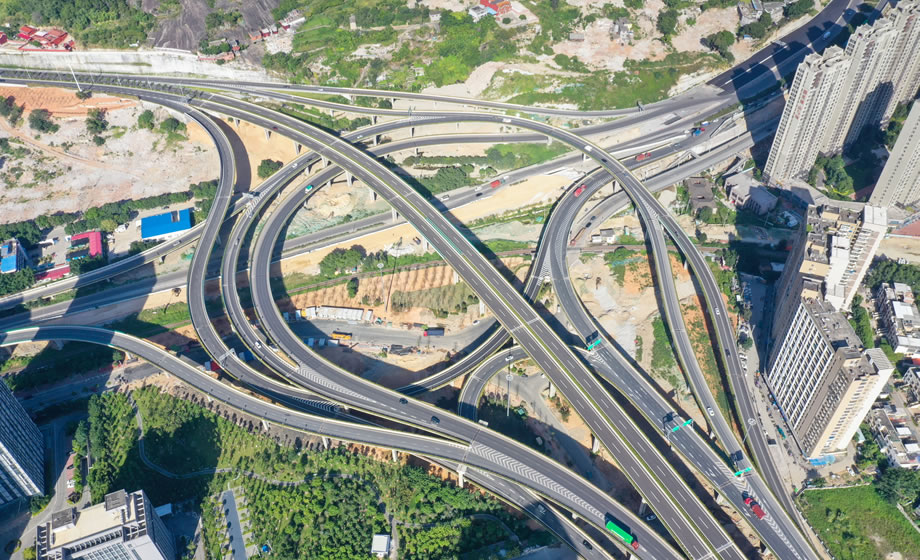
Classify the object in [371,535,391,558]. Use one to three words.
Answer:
shed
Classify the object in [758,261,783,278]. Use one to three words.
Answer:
shed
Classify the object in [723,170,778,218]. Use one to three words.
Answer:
building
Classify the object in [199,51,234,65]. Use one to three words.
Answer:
house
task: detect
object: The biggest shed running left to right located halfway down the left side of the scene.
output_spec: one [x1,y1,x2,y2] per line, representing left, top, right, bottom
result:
[141,210,192,242]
